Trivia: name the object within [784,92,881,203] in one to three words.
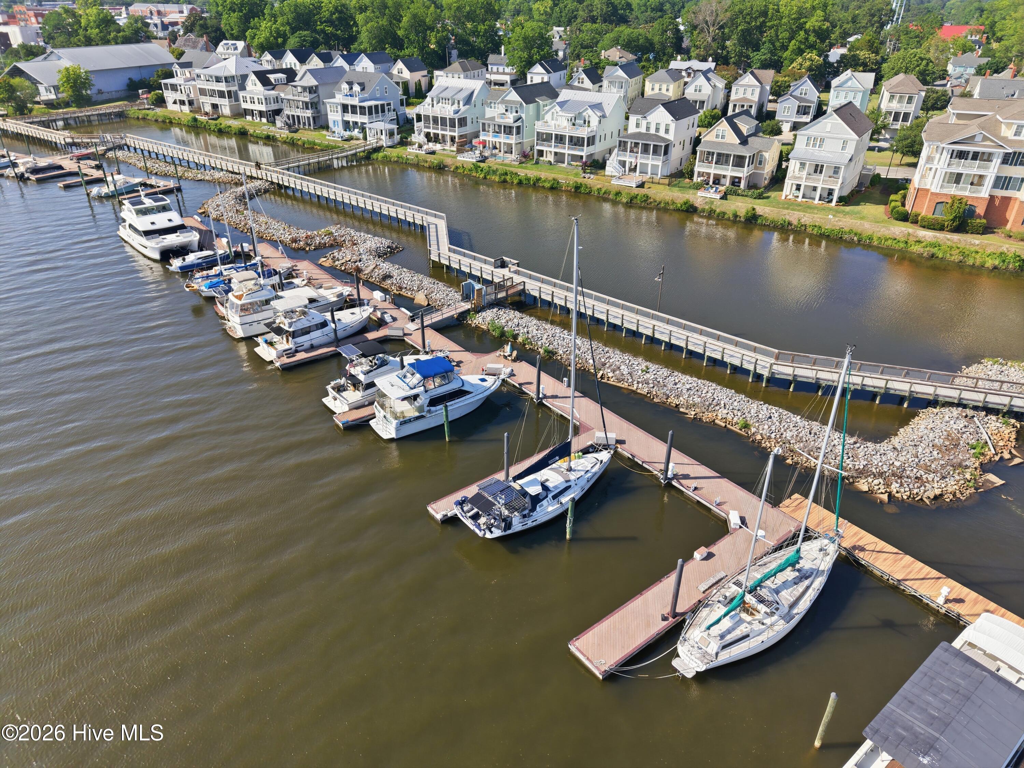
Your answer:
house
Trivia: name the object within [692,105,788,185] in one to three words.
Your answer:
house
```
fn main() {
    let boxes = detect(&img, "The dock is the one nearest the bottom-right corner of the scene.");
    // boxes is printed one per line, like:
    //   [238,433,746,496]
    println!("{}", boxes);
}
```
[786,493,1024,631]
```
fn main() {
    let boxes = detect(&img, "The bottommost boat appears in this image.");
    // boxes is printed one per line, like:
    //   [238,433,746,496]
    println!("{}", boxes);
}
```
[830,610,1024,768]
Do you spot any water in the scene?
Yes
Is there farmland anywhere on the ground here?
No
